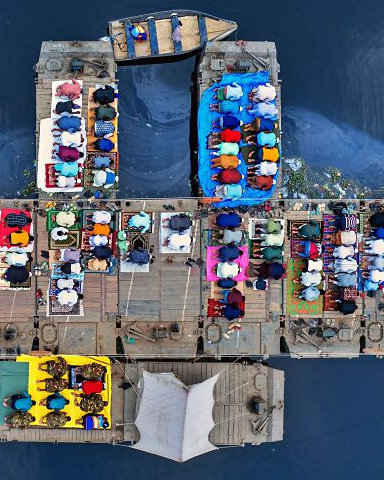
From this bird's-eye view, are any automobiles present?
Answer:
No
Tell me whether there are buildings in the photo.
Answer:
No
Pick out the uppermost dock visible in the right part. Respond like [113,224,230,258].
[192,41,286,200]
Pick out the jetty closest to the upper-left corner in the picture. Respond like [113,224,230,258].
[30,41,123,200]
